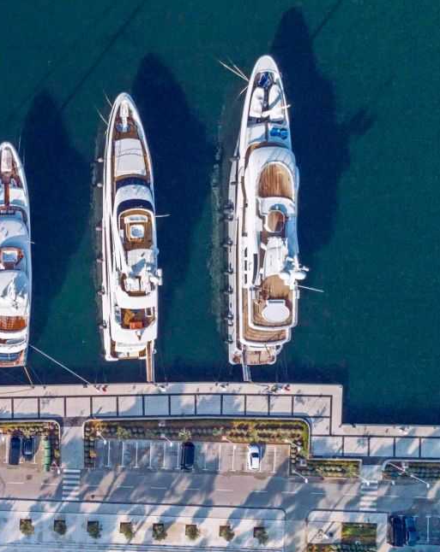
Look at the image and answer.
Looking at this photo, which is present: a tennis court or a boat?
boat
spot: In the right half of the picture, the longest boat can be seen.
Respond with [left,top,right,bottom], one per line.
[219,54,323,383]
